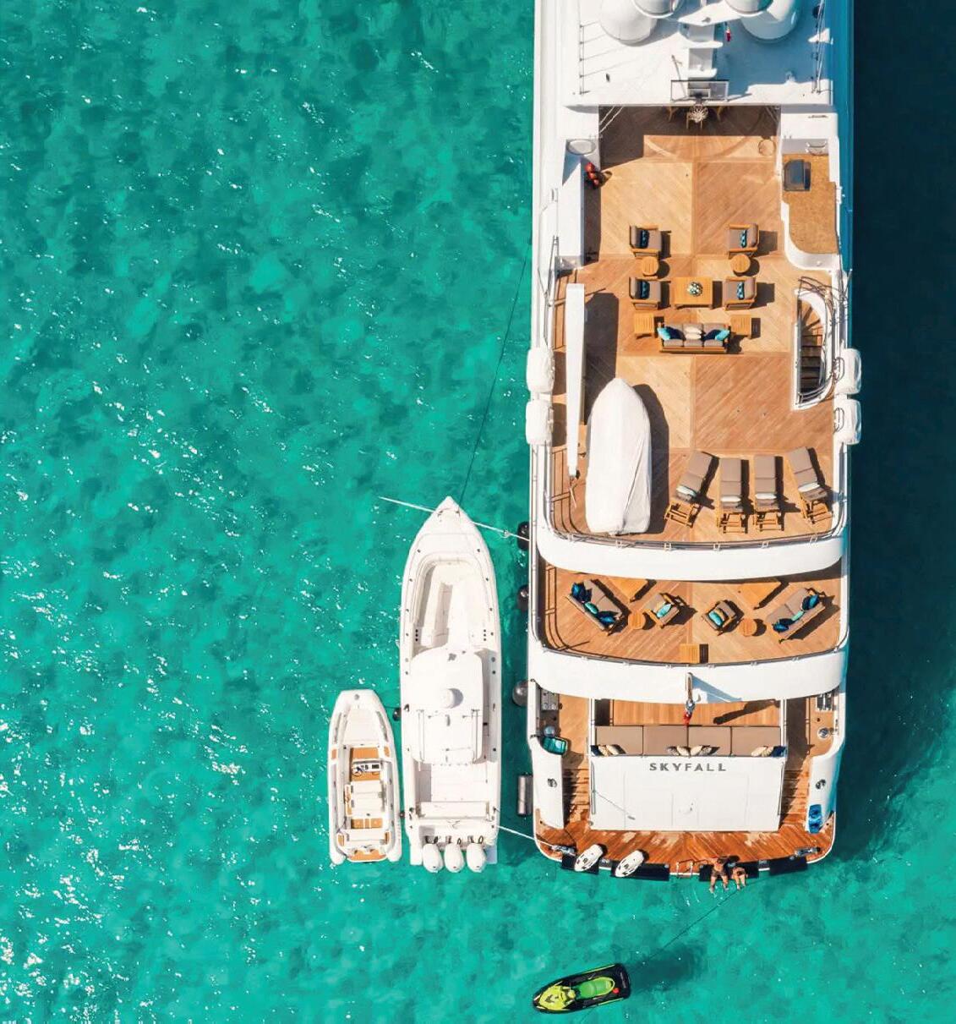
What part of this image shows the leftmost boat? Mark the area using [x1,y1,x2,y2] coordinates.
[329,690,401,863]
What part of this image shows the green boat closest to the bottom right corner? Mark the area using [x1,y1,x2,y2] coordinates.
[535,960,632,1010]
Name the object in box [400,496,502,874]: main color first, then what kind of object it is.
white boat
